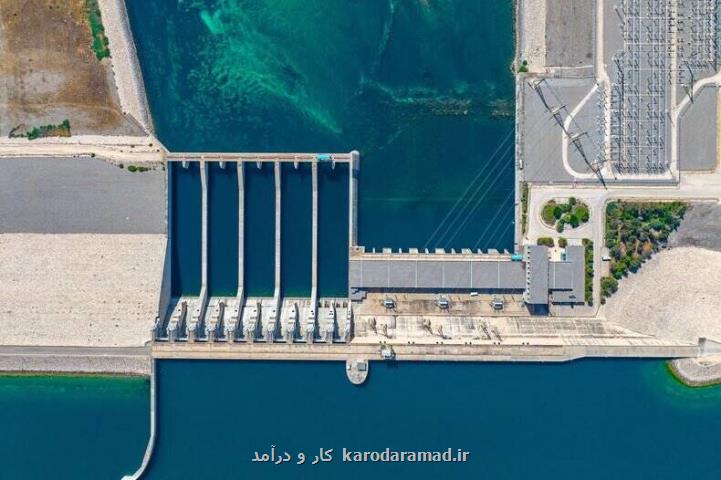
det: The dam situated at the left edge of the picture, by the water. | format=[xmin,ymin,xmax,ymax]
[0,233,167,373]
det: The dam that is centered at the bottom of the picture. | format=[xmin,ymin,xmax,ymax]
[152,313,701,385]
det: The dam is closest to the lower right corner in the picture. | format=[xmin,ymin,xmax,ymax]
[601,249,721,384]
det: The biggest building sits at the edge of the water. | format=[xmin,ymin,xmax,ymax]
[349,246,525,299]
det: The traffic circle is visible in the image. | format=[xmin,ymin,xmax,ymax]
[541,197,590,232]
